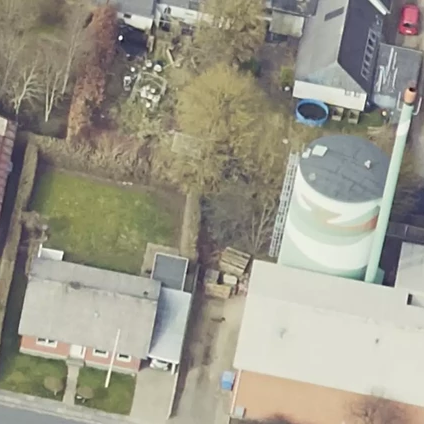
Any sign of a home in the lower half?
Yes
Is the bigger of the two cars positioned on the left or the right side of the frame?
right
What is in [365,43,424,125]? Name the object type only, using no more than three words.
building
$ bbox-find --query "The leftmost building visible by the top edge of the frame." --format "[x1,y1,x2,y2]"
[117,0,158,39]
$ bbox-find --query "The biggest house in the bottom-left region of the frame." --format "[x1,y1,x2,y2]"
[19,257,161,372]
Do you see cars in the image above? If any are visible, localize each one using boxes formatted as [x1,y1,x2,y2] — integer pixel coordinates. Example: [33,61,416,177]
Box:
[148,357,168,370]
[398,6,420,39]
